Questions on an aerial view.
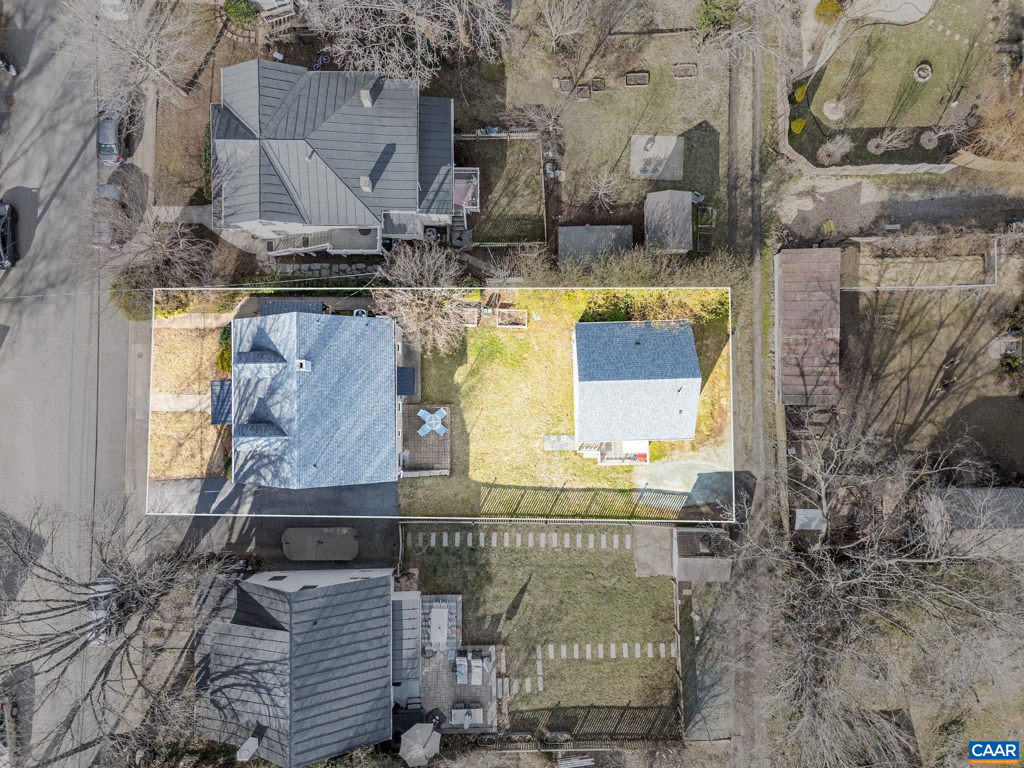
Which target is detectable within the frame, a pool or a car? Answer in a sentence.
Visible in the photo is a car.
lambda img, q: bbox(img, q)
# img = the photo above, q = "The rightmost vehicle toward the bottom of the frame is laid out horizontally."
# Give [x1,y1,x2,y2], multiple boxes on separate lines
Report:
[278,522,361,559]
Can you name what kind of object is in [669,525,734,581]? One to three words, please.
building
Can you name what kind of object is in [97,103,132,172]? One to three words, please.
car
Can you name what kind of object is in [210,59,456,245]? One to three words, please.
house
